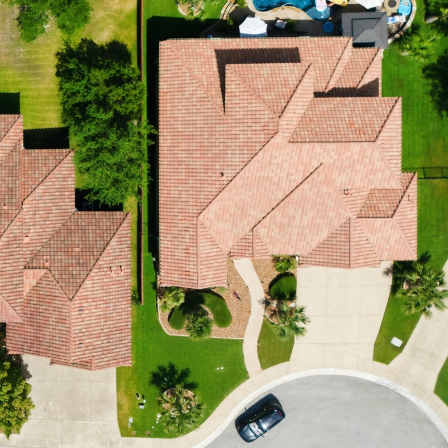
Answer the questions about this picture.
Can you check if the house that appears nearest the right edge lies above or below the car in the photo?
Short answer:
above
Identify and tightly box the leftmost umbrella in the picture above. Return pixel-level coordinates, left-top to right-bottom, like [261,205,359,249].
[238,13,267,39]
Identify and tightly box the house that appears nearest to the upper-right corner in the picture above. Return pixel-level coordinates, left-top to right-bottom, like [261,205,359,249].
[159,36,419,288]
